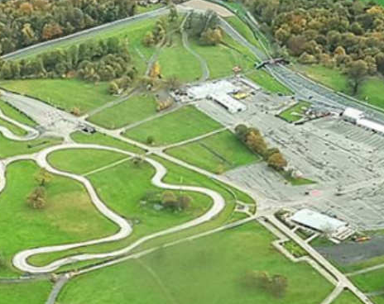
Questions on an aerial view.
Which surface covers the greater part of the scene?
grass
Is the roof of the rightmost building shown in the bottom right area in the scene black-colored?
No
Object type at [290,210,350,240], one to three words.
building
